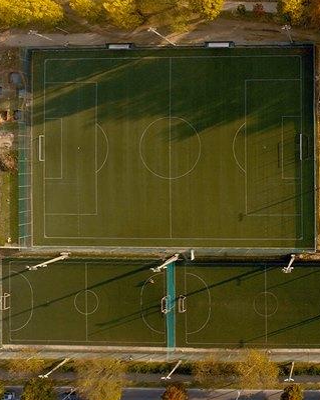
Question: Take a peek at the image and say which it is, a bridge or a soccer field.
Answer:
soccer field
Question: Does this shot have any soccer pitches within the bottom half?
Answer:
Yes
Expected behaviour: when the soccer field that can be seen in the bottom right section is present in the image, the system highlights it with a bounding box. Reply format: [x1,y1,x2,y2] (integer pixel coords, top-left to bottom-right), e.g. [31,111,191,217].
[175,259,320,350]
